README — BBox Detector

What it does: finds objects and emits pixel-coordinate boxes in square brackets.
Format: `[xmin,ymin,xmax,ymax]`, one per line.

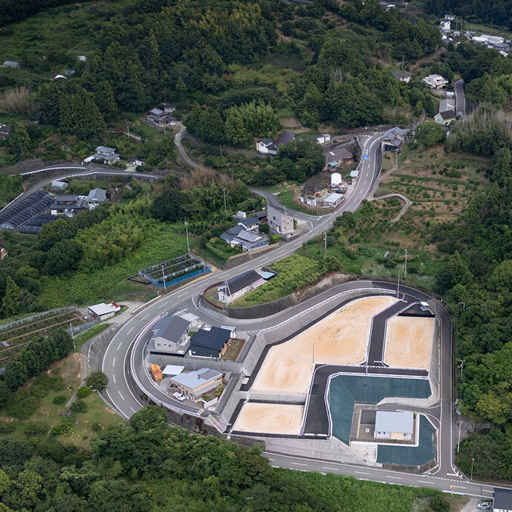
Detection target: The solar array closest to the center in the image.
[222,270,255,294]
